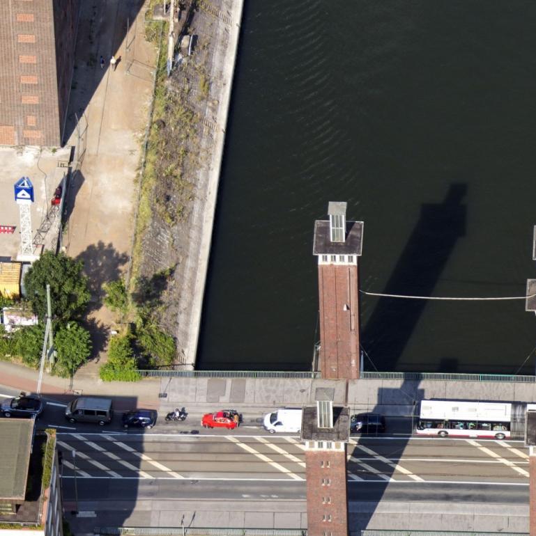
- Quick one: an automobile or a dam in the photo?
automobile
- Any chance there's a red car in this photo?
Yes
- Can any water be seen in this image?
Yes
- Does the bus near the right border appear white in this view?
Yes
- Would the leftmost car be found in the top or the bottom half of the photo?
bottom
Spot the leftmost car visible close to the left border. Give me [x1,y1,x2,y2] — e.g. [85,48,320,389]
[0,397,40,418]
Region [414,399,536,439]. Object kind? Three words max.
bus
